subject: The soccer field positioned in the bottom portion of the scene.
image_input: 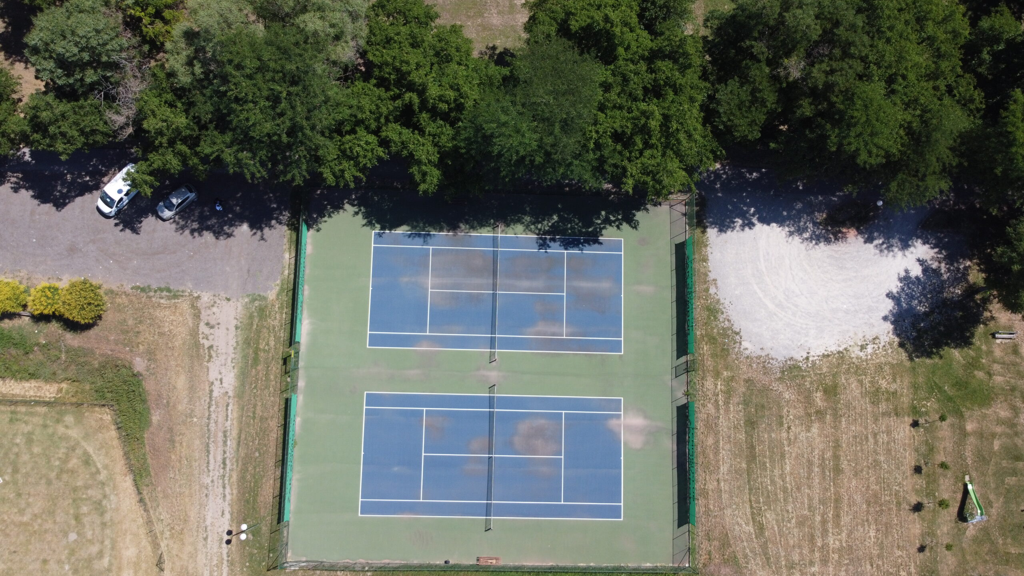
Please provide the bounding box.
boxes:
[0,403,162,576]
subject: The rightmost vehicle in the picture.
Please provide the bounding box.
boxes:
[158,184,201,220]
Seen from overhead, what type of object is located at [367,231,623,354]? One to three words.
tennis court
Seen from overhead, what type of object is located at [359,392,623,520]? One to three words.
tennis court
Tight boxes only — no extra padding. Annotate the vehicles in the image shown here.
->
[98,172,140,217]
[158,184,201,220]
